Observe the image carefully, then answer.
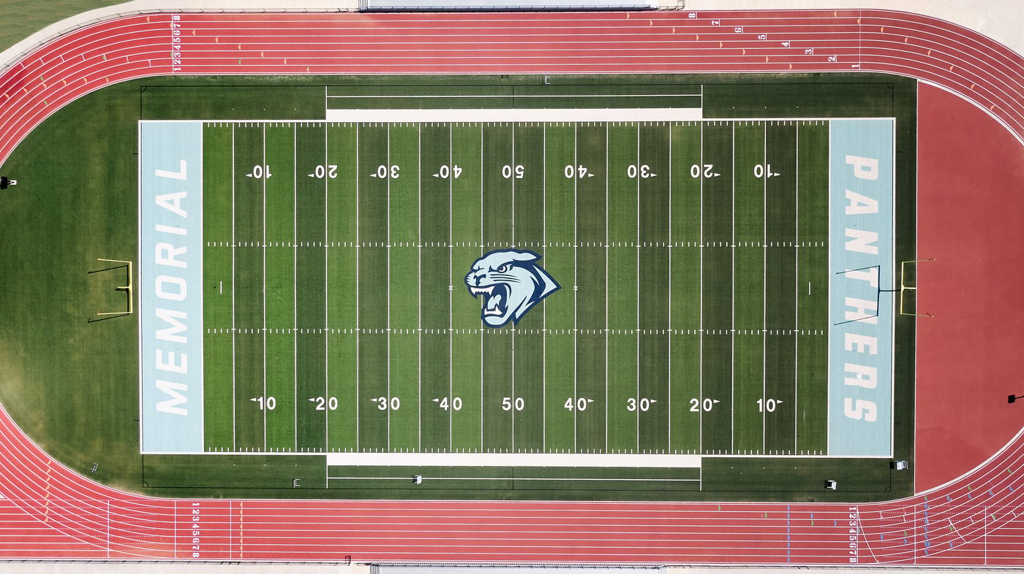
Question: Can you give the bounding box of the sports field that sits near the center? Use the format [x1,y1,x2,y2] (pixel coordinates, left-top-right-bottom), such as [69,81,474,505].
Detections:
[134,82,900,493]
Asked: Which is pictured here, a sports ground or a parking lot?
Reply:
sports ground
